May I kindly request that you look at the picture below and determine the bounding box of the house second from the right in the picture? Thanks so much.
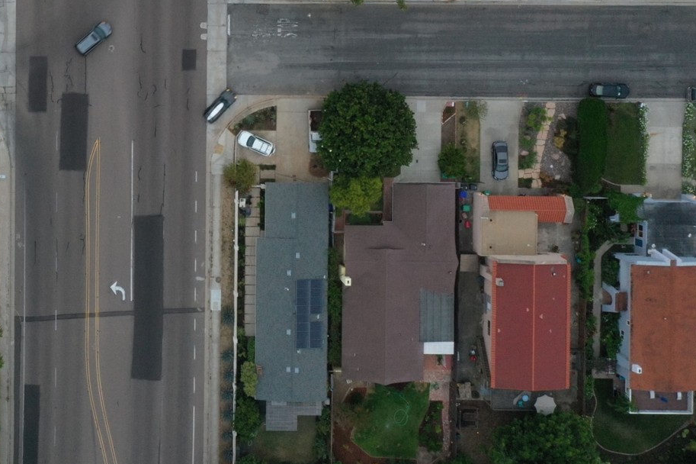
[460,190,574,394]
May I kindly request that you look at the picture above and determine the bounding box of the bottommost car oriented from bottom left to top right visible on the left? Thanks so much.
[201,88,236,123]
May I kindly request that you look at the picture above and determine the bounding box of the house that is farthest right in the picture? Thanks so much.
[594,191,696,414]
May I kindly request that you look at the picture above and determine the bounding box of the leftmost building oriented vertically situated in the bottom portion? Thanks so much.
[255,182,329,431]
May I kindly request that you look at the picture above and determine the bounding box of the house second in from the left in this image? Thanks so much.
[337,182,460,384]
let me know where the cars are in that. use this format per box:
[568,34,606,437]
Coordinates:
[74,21,112,55]
[201,88,236,123]
[588,82,628,99]
[236,129,275,156]
[685,86,696,101]
[491,141,509,180]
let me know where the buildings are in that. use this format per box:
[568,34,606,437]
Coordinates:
[255,182,329,431]
[337,182,460,384]
[594,191,696,414]
[460,190,574,394]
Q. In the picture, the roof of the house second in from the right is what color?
red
